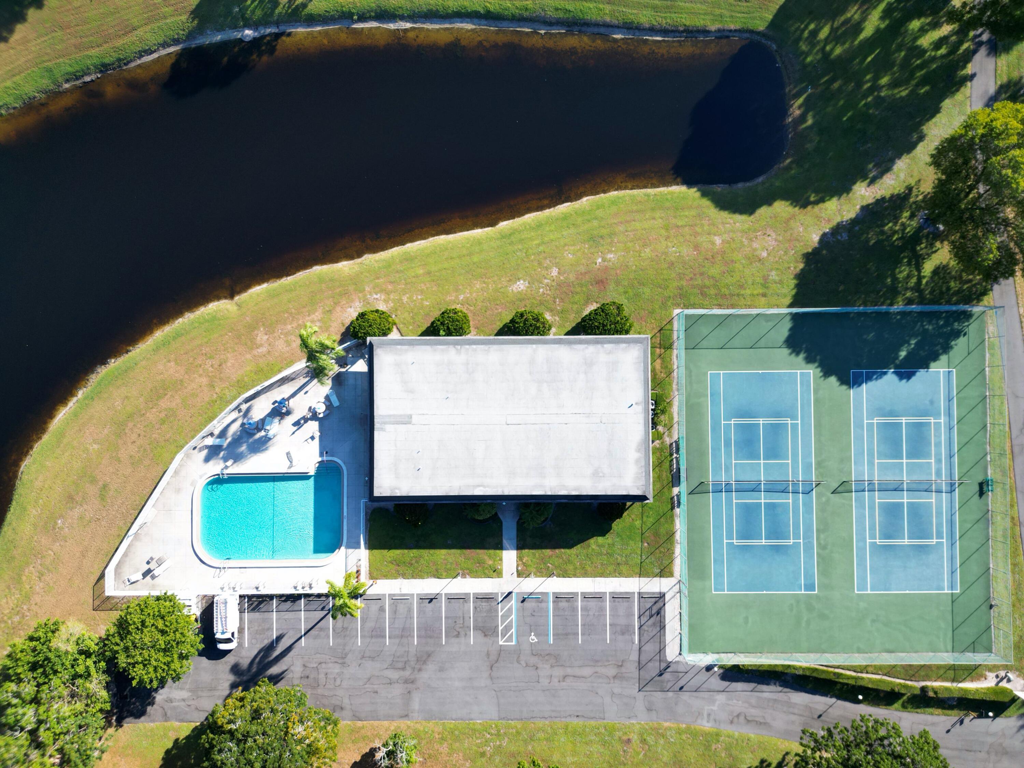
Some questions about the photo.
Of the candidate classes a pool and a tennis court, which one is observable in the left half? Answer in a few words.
pool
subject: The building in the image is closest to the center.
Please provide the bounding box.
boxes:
[365,335,652,505]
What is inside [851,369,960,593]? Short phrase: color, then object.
blue tennis court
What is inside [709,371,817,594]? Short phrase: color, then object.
blue tennis court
